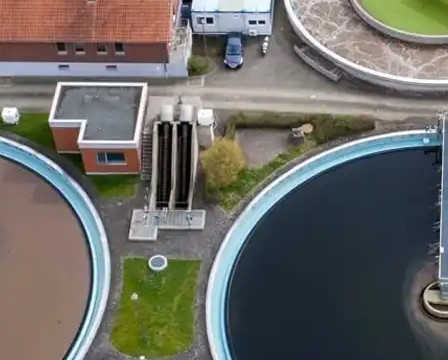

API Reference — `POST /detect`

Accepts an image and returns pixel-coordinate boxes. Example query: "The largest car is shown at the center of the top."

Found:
[221,30,244,65]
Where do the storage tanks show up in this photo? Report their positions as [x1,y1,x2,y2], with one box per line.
[284,0,448,97]
[205,130,448,360]
[0,136,111,360]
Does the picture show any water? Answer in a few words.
Yes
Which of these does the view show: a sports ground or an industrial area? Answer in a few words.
industrial area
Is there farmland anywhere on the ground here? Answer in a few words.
No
